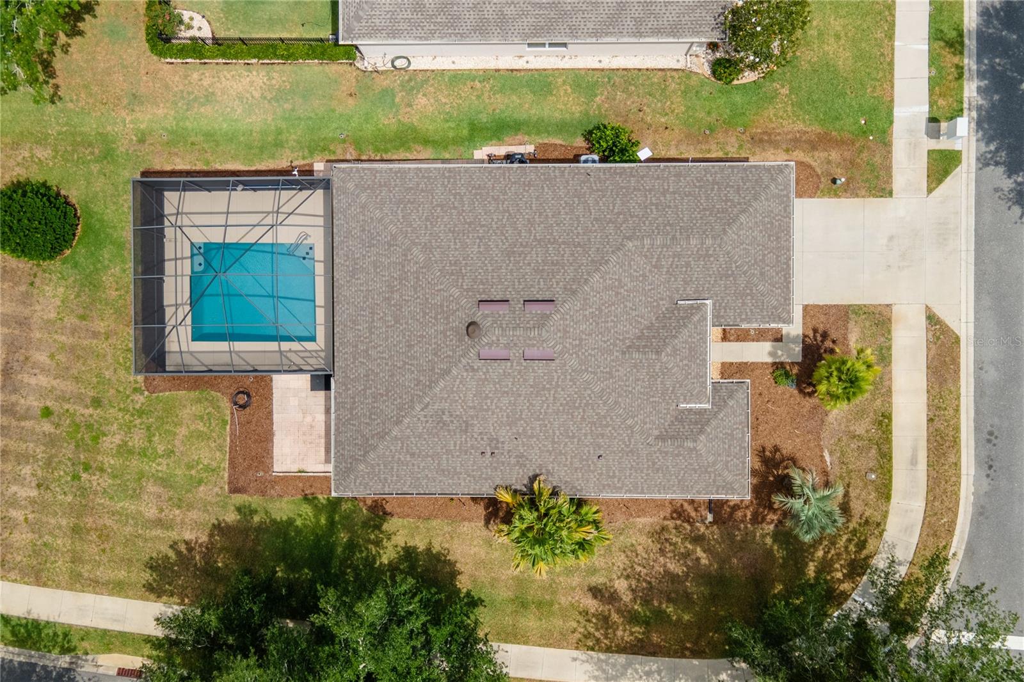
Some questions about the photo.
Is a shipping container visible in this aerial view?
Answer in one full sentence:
No, this view has no shipping container in it.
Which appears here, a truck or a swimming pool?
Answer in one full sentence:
Visible in the photo is a swimming pool.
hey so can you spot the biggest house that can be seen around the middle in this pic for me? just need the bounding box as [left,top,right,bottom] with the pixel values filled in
[331,162,796,499]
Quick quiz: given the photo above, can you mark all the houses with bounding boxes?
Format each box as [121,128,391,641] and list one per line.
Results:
[331,162,796,499]
[338,0,730,56]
